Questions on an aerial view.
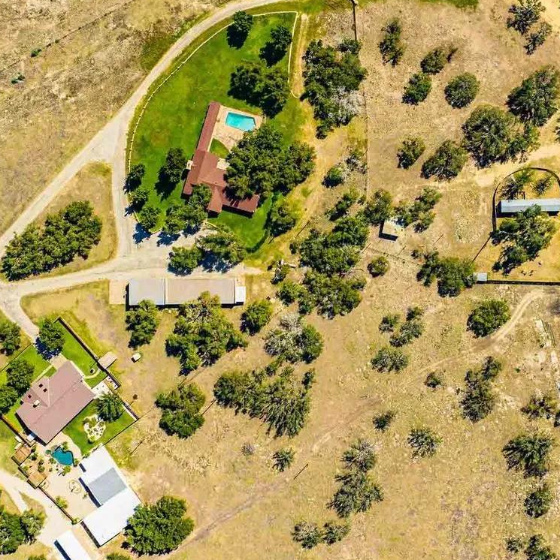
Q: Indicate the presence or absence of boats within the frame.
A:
No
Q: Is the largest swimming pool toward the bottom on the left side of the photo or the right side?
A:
left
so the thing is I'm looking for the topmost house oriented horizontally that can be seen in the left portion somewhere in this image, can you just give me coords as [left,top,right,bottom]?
[128,279,246,306]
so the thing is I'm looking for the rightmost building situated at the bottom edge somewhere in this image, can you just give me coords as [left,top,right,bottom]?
[80,443,145,547]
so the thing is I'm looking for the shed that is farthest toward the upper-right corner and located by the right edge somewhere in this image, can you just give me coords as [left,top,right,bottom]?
[501,200,560,213]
